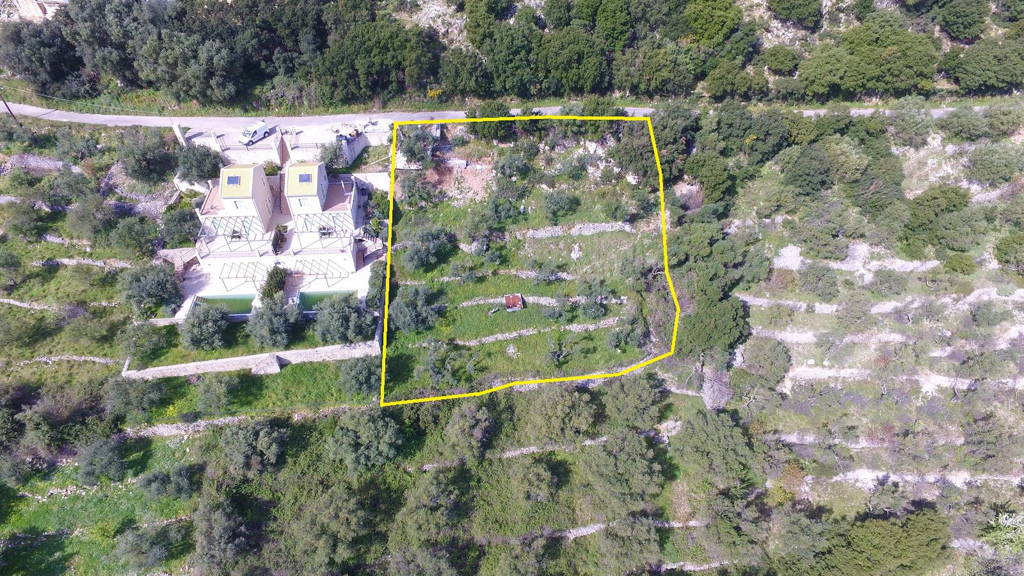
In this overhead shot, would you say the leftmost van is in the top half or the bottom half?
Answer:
top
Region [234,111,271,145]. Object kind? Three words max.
van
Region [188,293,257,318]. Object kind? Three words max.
swimming pool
